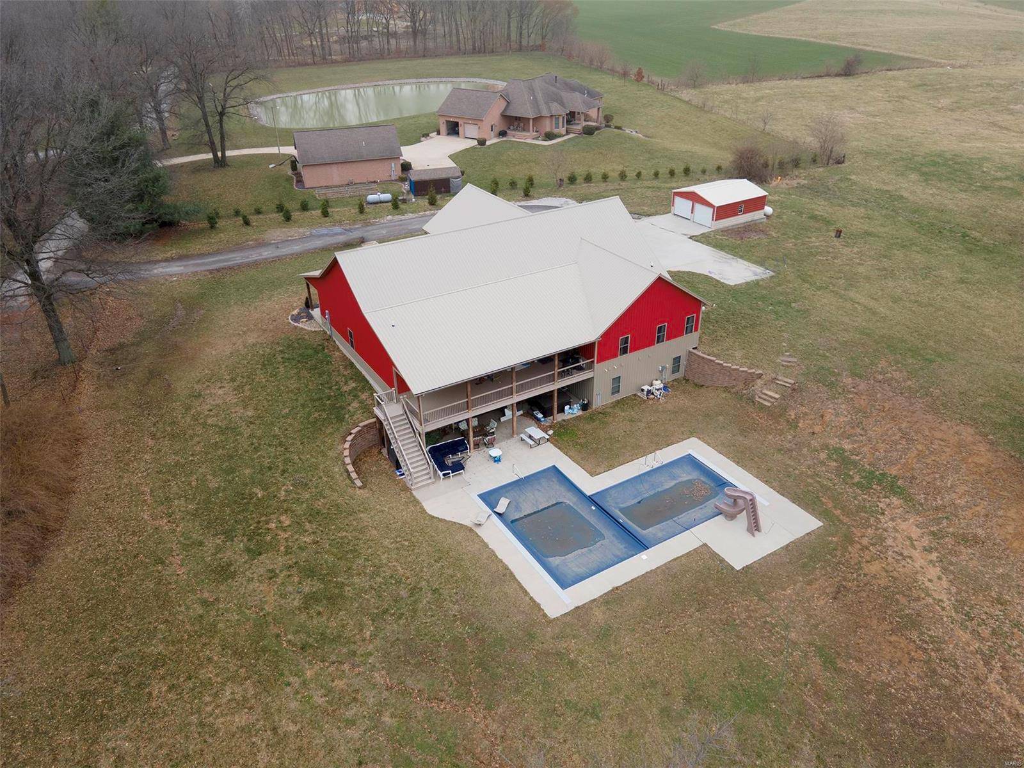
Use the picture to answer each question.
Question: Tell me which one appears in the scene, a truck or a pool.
pool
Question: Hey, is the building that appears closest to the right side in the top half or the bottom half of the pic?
top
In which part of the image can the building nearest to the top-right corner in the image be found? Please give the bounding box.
[670,178,771,229]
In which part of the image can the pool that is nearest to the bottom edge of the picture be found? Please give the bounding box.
[470,446,766,603]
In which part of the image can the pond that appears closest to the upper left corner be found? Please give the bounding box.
[249,79,510,127]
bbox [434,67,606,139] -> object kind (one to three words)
house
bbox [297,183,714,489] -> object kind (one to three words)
house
